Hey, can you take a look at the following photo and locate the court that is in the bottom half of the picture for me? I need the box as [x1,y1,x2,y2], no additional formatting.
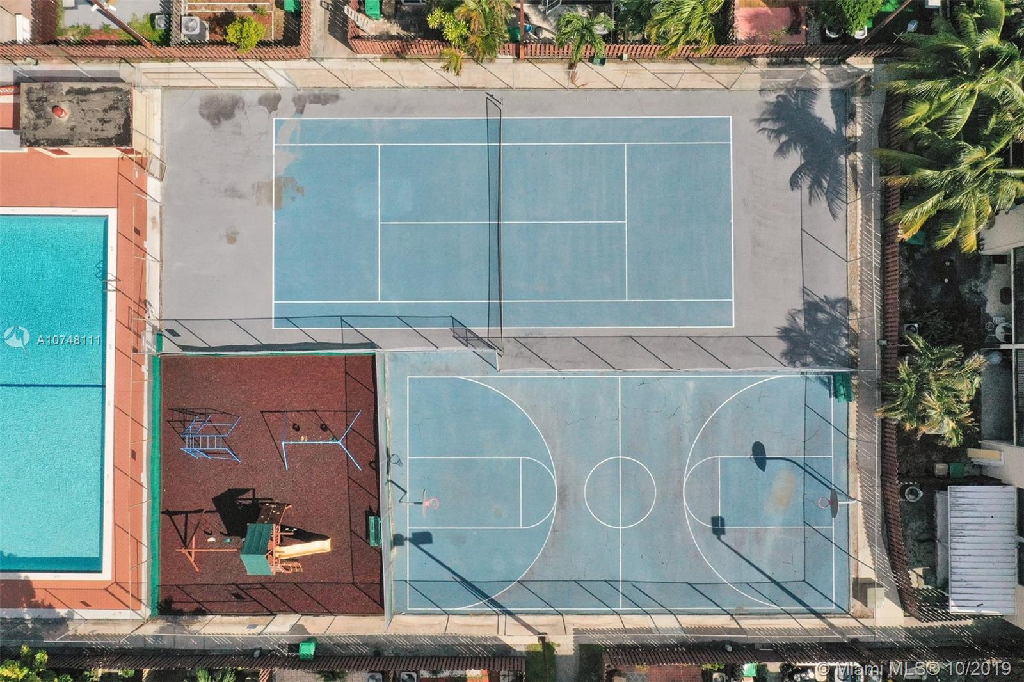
[389,354,849,613]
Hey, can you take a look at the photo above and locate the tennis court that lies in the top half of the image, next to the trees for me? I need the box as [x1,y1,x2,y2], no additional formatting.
[161,89,848,371]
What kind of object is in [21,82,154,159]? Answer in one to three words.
building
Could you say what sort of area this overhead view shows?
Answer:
sports ground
